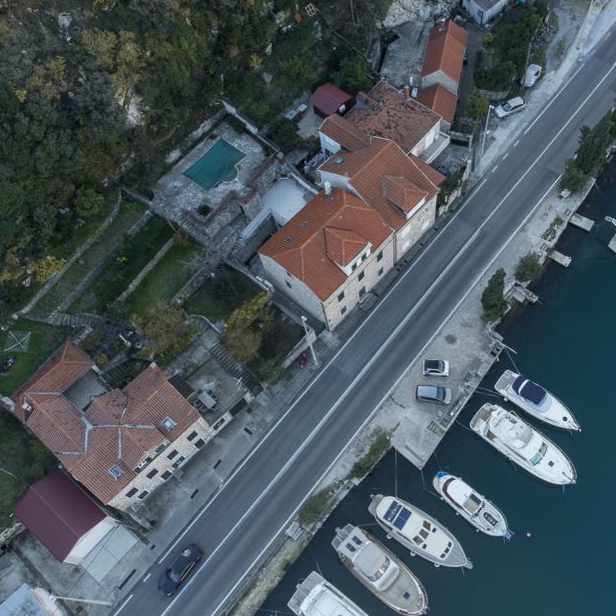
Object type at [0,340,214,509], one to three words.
house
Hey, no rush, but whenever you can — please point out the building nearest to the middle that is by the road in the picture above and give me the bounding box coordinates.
[258,182,392,327]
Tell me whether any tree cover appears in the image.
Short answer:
Yes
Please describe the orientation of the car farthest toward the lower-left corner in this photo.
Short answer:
at an angle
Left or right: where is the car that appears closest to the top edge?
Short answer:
right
